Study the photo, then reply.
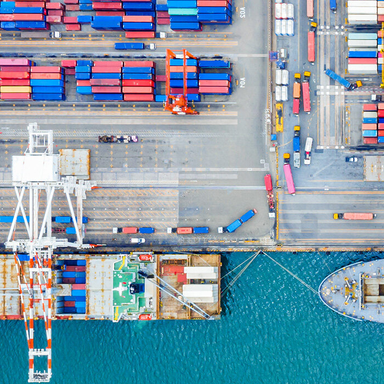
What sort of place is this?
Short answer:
port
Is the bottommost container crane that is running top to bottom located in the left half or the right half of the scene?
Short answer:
left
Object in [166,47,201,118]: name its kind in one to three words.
container crane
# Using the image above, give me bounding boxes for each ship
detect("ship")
[0,255,221,322]
[318,258,384,324]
